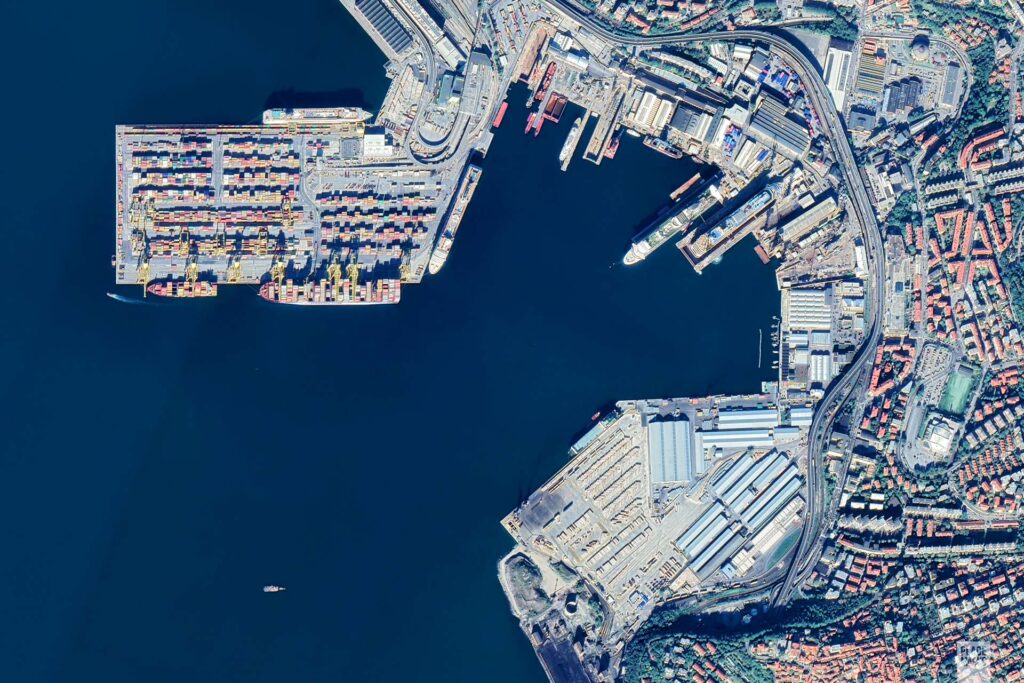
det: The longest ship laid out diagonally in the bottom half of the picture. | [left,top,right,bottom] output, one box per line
[569,408,618,453]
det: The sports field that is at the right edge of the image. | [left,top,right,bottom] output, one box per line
[939,372,974,413]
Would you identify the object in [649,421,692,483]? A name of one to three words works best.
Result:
building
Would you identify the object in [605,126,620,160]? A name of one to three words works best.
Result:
ship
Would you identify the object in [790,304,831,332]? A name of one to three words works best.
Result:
building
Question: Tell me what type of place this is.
port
